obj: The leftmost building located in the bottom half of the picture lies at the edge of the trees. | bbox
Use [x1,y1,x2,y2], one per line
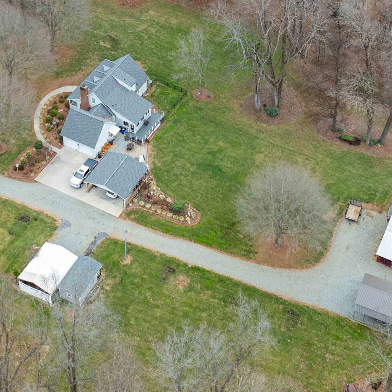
[16,242,81,306]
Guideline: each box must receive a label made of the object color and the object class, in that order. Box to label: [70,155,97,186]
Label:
white truck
